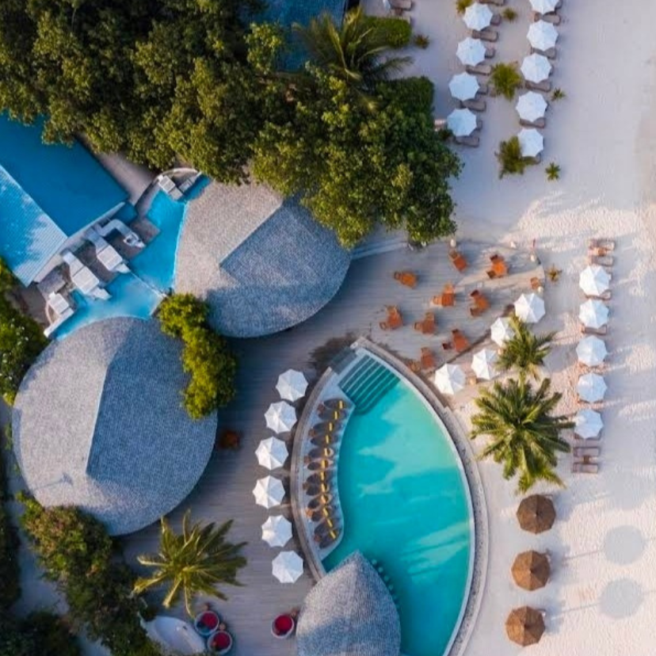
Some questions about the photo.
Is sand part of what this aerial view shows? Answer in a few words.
Yes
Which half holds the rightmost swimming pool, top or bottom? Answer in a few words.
bottom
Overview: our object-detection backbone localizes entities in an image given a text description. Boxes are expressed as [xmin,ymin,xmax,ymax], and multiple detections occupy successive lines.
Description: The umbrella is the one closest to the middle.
[276,369,309,402]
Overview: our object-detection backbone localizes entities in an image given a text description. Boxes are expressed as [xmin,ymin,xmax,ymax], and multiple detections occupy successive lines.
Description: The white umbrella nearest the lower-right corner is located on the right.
[572,408,604,438]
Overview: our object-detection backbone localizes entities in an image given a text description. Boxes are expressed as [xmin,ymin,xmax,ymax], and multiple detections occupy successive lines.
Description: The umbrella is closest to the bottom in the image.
[505,605,546,646]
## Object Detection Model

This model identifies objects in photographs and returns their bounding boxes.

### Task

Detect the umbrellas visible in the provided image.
[517,129,545,157]
[488,316,518,347]
[505,605,546,646]
[469,347,500,380]
[572,408,604,438]
[261,516,293,547]
[576,373,606,403]
[447,70,480,102]
[513,291,545,323]
[276,369,309,402]
[259,438,289,468]
[265,401,297,432]
[456,36,486,65]
[510,549,550,590]
[462,2,492,34]
[577,334,607,366]
[446,107,477,137]
[579,300,610,329]
[434,363,466,394]
[516,492,556,533]
[272,549,303,581]
[579,265,611,296]
[254,475,284,505]
[517,92,547,123]
[527,22,557,52]
[529,0,560,17]
[522,53,553,84]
